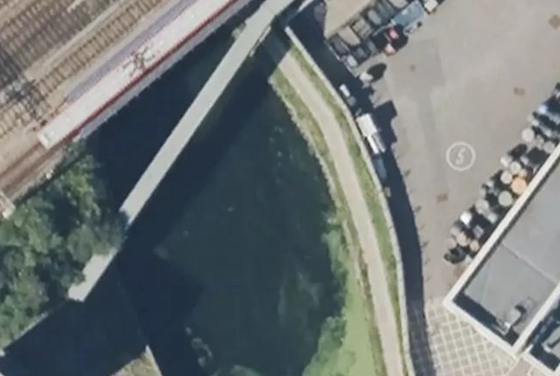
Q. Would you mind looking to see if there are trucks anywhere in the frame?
Yes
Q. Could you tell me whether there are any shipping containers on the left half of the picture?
No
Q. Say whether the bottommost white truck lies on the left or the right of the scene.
right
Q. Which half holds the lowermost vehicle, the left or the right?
right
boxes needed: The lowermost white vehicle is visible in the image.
[353,100,387,157]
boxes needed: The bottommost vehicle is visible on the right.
[368,146,393,184]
